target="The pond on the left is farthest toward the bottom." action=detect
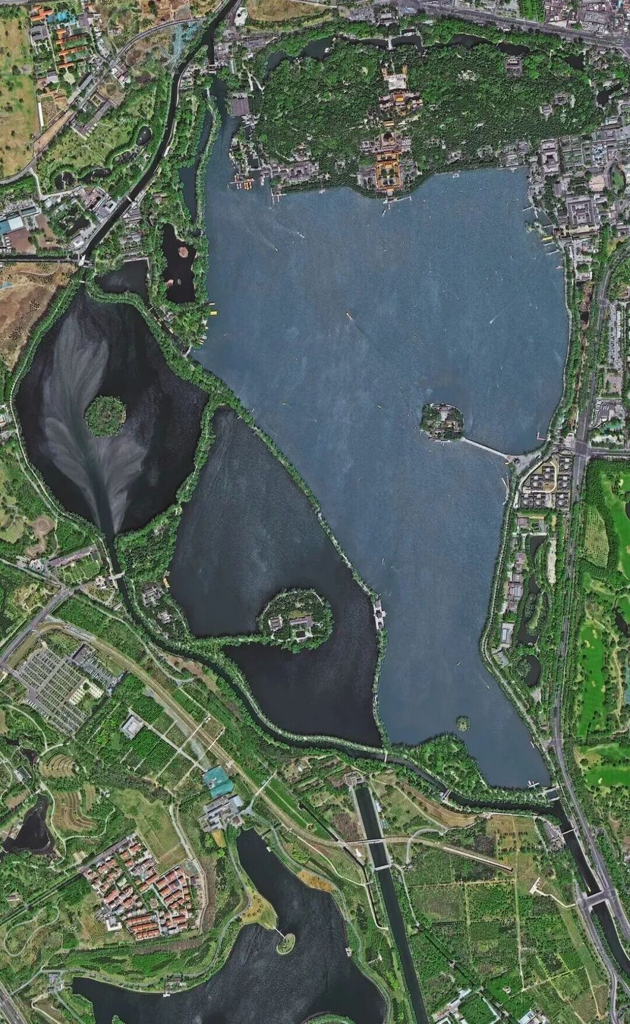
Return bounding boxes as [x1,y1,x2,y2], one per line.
[0,796,53,856]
